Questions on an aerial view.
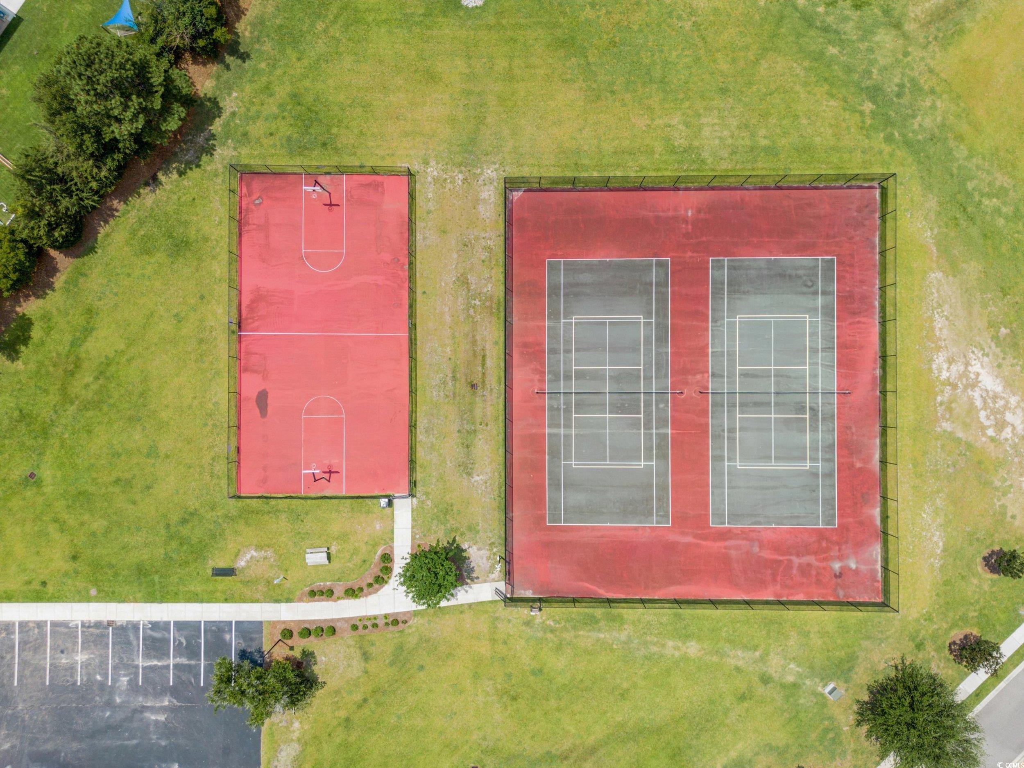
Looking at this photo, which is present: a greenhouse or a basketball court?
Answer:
basketball court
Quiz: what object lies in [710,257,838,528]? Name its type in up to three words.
tennis court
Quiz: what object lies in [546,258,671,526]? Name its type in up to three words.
tennis court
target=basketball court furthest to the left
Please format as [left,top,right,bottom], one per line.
[236,171,410,495]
